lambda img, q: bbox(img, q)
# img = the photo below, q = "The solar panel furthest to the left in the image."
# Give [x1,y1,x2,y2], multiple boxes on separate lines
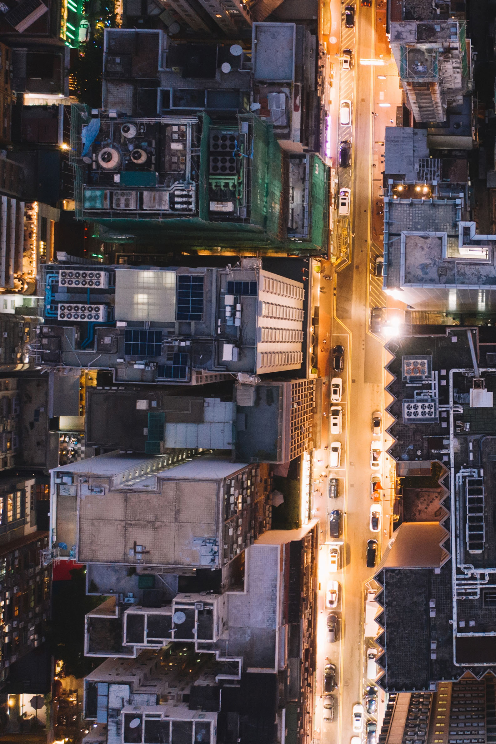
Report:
[125,329,163,357]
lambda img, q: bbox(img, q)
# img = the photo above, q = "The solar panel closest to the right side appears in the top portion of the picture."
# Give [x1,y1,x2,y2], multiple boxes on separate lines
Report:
[227,281,256,294]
